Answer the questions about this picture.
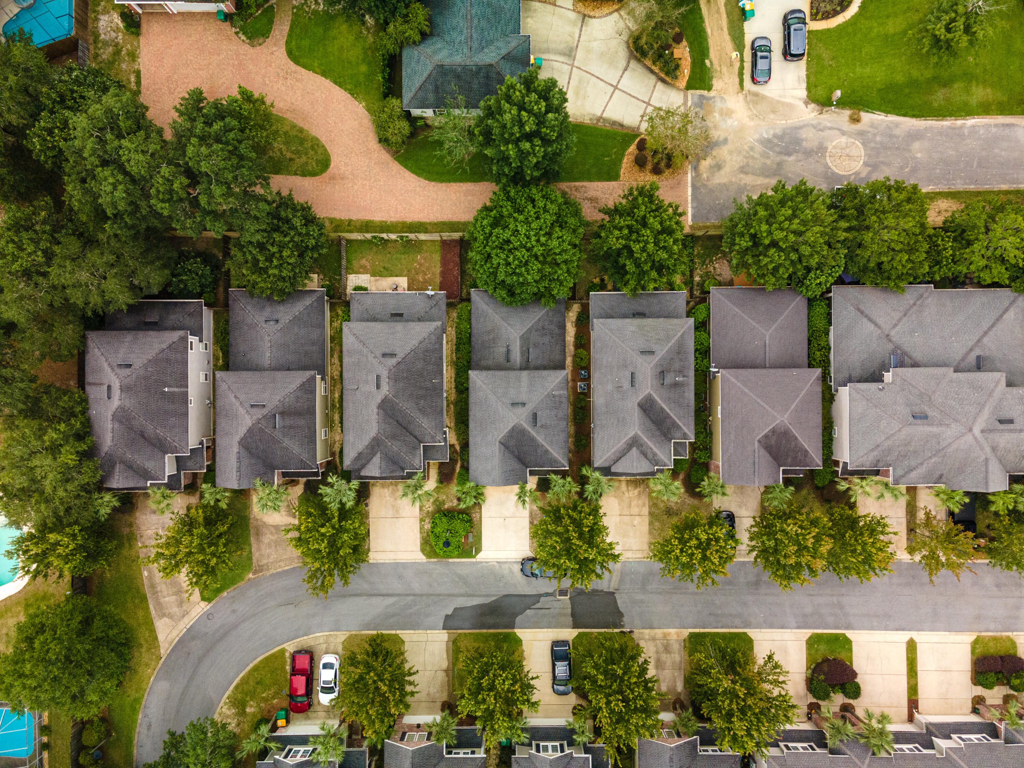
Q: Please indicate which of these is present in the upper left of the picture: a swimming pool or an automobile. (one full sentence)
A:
The one visible in the upper left of the picture is a swimming pool.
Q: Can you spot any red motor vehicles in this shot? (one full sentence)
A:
Yes, a red motor vehicle is visible in the scene.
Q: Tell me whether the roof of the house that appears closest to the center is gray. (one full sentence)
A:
Yes, the roof of the house that appears closest to the center is gray.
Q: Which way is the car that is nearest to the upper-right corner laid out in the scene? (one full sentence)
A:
What the image shows is the car that is nearest to the upper-right corner lying up and down.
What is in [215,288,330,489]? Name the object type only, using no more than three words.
house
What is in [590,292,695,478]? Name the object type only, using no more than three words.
house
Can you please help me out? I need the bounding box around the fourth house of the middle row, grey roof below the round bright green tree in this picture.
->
[468,289,569,486]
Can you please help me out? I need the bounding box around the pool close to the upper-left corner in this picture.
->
[6,0,73,43]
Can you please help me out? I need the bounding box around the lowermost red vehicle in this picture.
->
[287,649,314,713]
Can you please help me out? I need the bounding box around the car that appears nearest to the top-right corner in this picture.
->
[782,9,810,63]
